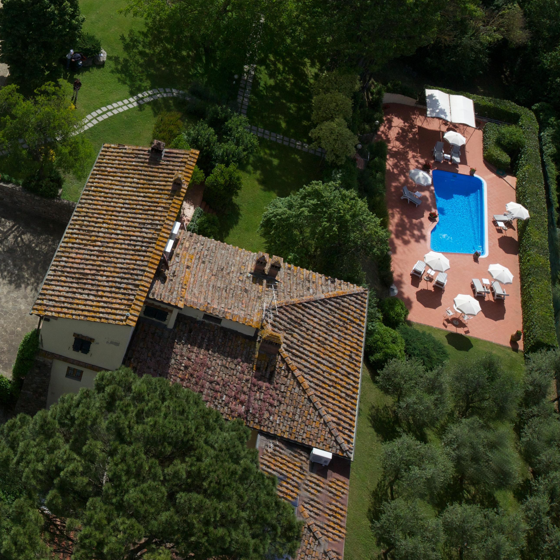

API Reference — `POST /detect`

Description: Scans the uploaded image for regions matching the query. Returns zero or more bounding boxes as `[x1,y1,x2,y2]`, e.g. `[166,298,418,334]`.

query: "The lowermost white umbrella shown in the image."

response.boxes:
[453,294,482,326]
